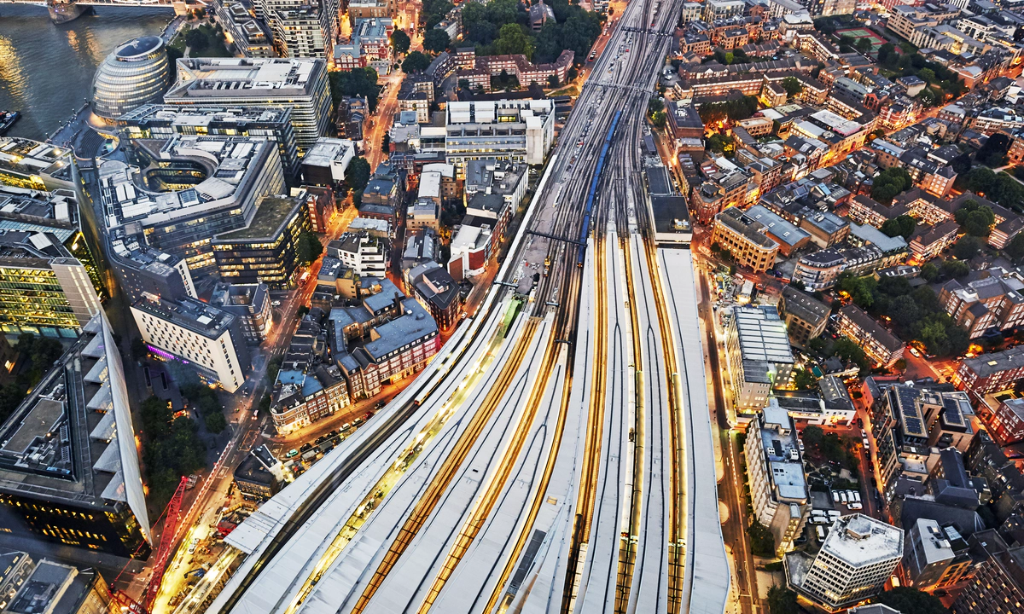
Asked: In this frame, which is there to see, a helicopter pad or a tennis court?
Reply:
tennis court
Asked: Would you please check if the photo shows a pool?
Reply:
No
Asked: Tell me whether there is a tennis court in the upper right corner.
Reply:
Yes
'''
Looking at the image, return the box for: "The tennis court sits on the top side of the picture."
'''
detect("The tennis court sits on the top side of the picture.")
[834,26,903,66]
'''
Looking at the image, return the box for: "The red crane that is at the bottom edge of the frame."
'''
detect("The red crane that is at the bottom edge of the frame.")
[112,477,198,614]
